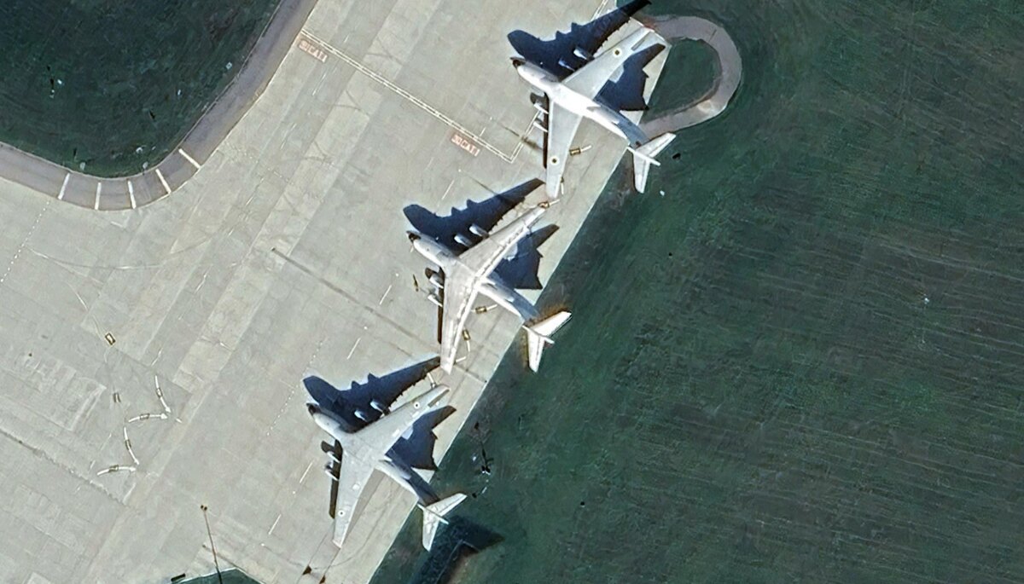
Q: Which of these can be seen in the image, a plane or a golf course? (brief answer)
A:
plane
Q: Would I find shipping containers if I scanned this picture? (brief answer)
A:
No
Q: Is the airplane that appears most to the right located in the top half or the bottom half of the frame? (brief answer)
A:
top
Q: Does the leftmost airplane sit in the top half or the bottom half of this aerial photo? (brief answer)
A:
bottom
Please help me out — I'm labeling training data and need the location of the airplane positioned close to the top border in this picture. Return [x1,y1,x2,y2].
[509,27,677,197]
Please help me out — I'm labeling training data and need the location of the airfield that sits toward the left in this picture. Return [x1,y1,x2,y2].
[0,0,742,584]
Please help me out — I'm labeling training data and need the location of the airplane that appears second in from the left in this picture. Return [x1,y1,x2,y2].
[404,204,571,373]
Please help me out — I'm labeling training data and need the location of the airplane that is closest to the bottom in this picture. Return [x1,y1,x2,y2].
[306,384,467,551]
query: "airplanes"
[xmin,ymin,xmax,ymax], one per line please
[509,27,677,197]
[404,204,571,373]
[306,384,467,551]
